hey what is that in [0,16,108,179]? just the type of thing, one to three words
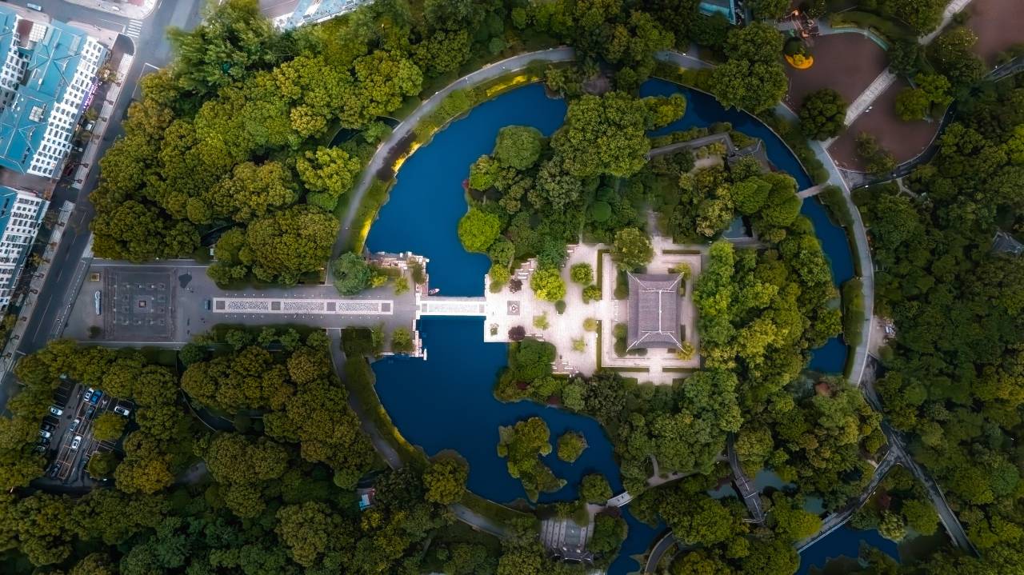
building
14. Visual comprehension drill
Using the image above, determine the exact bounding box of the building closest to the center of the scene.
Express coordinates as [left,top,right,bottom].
[623,271,685,353]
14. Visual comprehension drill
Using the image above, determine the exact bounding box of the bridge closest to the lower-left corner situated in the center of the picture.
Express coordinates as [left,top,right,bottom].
[415,297,487,316]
